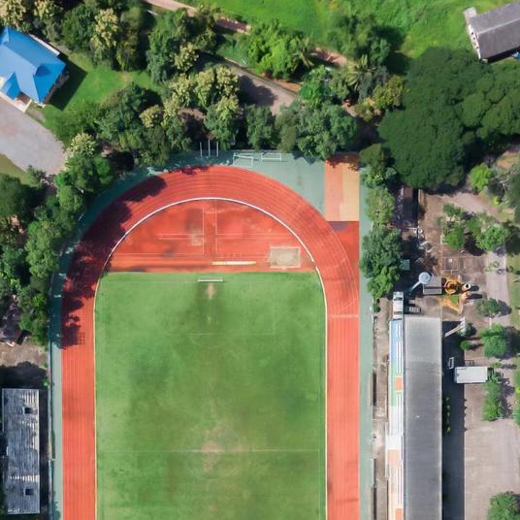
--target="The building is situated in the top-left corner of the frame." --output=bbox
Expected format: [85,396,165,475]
[0,26,66,110]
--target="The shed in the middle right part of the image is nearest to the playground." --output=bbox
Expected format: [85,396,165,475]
[423,277,442,296]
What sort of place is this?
sports ground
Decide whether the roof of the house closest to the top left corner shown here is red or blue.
blue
